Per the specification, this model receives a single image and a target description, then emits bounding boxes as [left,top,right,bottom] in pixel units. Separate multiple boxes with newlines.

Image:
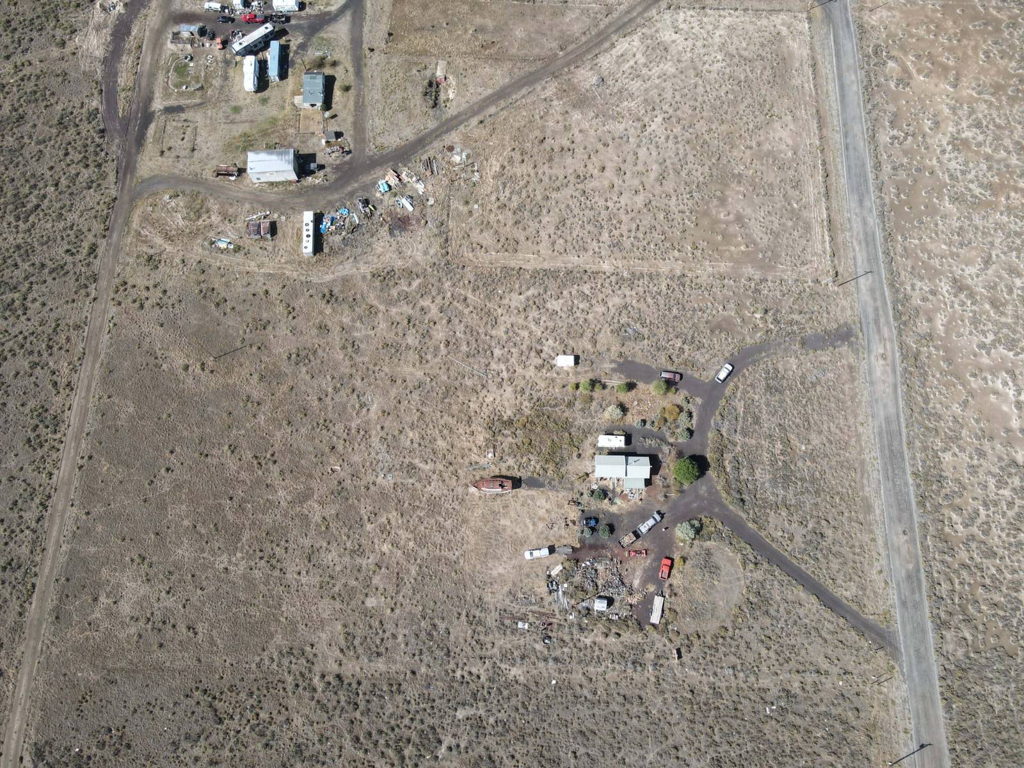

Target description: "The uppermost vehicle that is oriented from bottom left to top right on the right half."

[714,363,733,385]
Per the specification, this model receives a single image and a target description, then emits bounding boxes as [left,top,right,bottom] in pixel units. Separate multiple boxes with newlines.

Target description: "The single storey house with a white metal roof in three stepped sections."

[594,455,652,490]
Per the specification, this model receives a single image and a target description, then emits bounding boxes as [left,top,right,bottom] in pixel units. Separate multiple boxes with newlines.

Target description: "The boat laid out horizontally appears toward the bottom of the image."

[470,477,512,493]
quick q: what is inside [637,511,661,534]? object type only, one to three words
truck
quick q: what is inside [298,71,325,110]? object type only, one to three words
house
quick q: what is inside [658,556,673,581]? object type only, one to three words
vehicle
